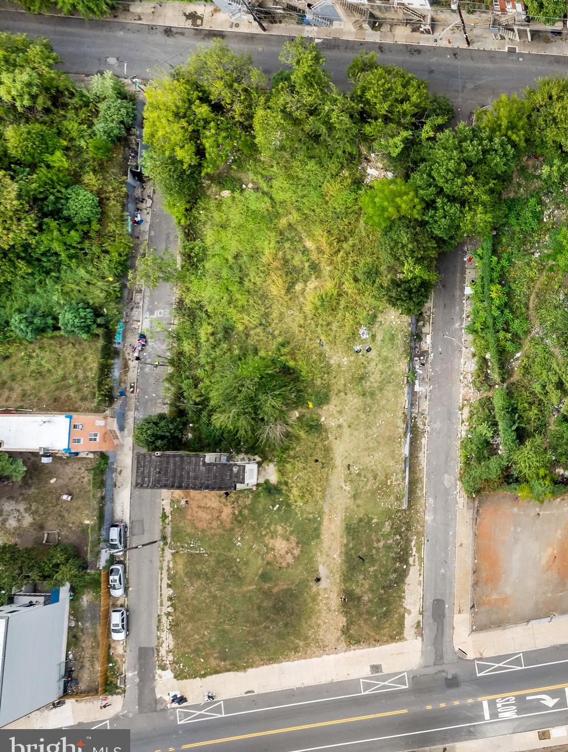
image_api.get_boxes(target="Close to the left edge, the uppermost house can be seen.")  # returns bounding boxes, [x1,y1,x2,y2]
[0,414,116,452]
